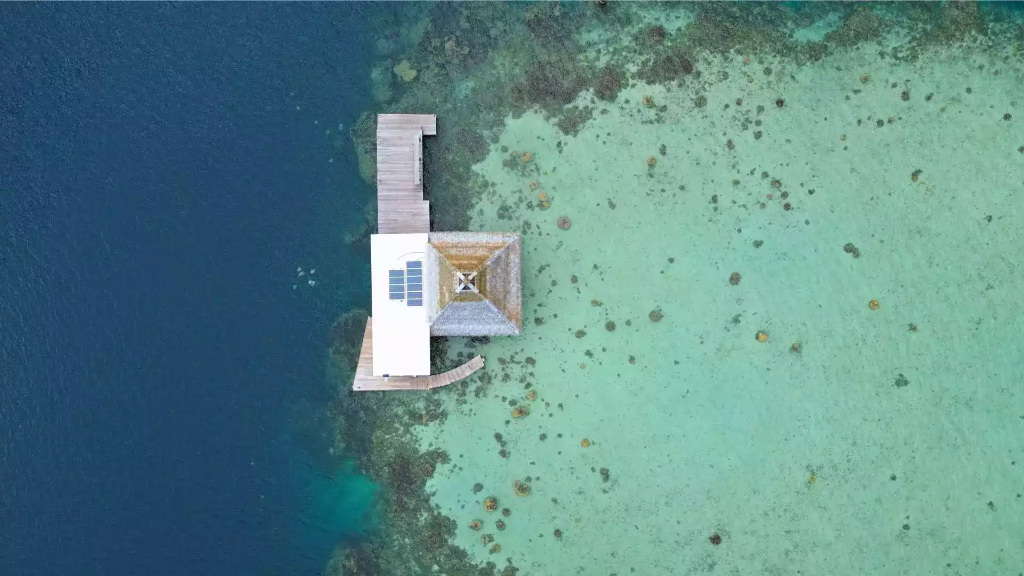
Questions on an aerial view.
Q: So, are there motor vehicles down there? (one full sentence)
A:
No, the photo shows no motor vehicle.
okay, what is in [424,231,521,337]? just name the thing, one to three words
building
